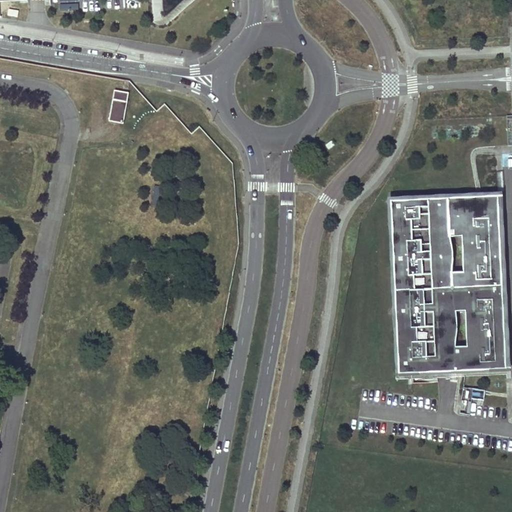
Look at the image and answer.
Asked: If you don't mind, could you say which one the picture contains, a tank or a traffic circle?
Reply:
traffic circle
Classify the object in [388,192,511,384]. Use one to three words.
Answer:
building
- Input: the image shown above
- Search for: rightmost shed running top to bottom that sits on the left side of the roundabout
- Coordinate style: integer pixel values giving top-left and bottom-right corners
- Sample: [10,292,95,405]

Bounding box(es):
[108,90,130,124]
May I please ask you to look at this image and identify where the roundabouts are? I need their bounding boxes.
[212,25,336,152]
